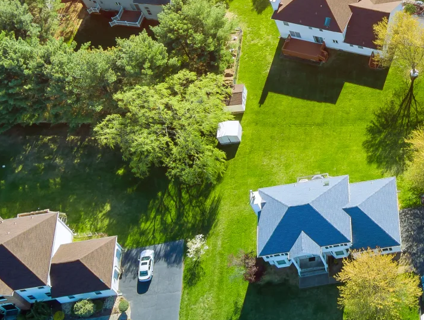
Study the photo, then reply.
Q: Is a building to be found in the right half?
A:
Yes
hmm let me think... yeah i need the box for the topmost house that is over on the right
[270,0,404,74]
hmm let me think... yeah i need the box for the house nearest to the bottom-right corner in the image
[246,174,400,281]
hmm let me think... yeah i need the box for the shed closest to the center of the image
[215,117,241,144]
